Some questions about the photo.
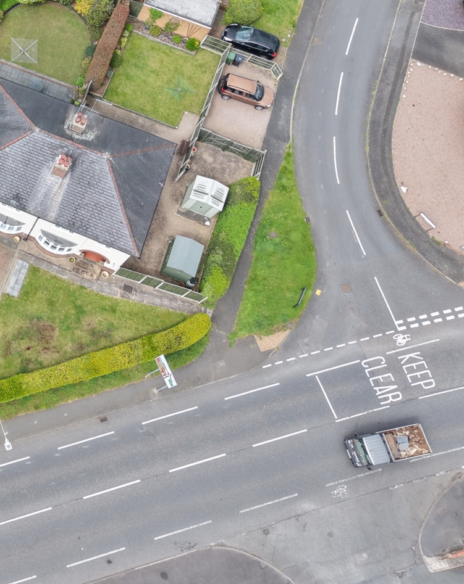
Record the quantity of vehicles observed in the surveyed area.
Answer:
3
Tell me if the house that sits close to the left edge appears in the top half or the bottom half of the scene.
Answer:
top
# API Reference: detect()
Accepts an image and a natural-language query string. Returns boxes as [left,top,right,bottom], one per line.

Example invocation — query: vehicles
[221,23,278,58]
[337,422,434,471]
[218,72,274,109]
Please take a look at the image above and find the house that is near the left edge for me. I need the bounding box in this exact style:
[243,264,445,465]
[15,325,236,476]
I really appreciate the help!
[0,75,178,271]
